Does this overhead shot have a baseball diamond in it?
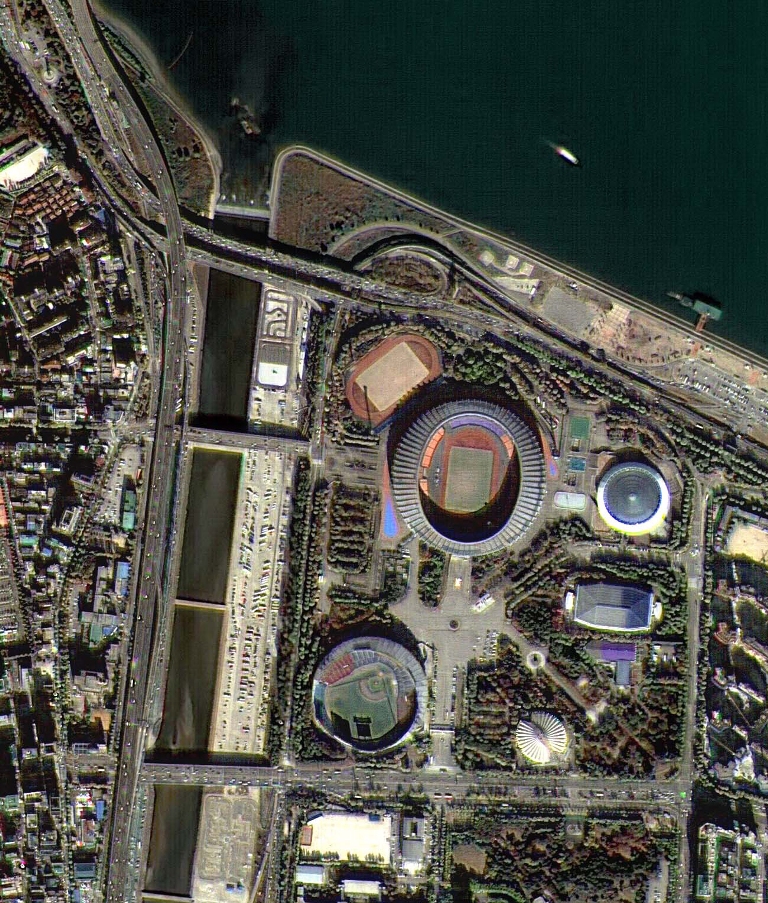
Yes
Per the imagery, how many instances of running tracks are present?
2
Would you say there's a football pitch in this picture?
Yes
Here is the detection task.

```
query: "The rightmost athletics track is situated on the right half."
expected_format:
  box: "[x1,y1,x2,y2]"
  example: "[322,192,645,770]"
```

[438,429,502,526]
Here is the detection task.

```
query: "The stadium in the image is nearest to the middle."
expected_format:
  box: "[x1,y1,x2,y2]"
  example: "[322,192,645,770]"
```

[392,401,544,556]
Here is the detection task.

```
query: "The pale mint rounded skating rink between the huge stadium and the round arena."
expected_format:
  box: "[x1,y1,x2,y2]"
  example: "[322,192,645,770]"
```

[555,492,586,509]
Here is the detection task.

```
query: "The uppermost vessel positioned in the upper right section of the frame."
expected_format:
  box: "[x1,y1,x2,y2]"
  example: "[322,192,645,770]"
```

[557,146,577,161]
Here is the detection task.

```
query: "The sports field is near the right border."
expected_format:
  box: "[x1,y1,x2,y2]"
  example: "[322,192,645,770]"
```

[729,523,768,563]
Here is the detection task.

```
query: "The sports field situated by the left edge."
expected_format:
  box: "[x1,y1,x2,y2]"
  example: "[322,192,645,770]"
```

[0,147,48,185]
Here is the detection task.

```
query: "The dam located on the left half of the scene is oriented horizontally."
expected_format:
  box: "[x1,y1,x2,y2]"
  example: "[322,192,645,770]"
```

[213,196,271,221]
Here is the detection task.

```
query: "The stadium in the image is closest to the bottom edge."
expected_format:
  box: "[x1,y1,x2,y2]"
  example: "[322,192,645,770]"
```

[312,638,428,754]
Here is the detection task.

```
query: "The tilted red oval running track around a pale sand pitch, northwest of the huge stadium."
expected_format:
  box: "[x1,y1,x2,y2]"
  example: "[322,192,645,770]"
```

[346,333,439,420]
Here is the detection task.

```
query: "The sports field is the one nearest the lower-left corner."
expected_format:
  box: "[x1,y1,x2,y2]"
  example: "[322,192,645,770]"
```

[301,814,391,864]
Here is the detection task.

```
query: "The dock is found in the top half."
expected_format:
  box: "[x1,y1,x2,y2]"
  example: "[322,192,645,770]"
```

[693,301,723,332]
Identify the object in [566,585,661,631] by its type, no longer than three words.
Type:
building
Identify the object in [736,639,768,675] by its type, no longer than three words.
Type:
building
